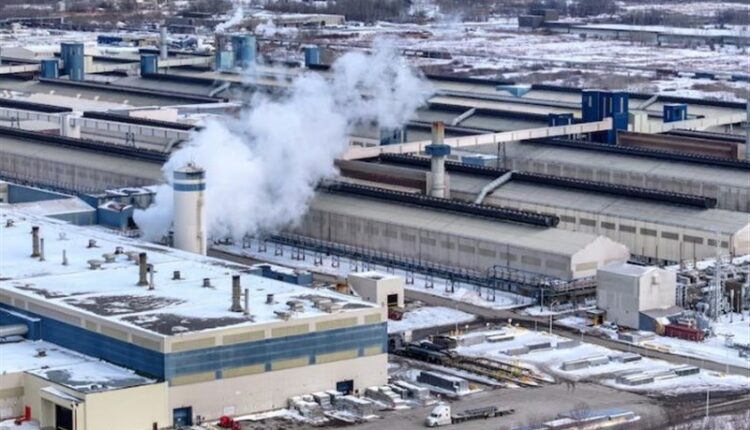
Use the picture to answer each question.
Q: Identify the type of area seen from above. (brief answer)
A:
industrial area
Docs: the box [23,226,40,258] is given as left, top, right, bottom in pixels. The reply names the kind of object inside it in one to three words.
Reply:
chimney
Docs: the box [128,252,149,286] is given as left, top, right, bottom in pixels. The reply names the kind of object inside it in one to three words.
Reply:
chimney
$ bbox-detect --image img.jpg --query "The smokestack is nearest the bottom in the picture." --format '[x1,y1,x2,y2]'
[222,275,245,314]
